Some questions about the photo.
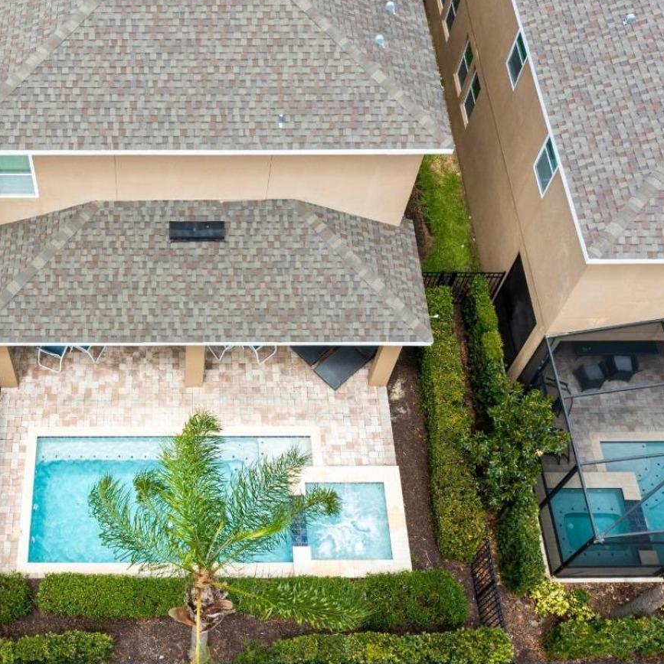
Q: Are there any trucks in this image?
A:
No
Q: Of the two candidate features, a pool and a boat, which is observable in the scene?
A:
pool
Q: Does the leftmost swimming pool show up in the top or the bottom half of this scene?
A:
bottom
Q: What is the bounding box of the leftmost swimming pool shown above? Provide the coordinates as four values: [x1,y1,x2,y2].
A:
[18,428,322,574]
